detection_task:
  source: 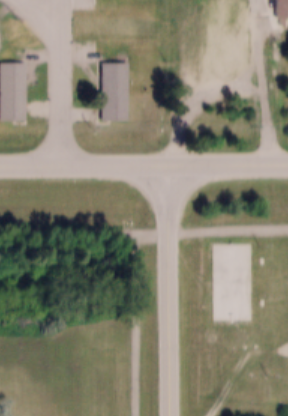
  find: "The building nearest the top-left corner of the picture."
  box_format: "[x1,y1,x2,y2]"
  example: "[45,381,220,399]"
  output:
[0,62,26,122]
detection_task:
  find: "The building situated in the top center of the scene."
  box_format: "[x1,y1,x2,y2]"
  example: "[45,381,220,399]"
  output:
[100,62,129,121]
